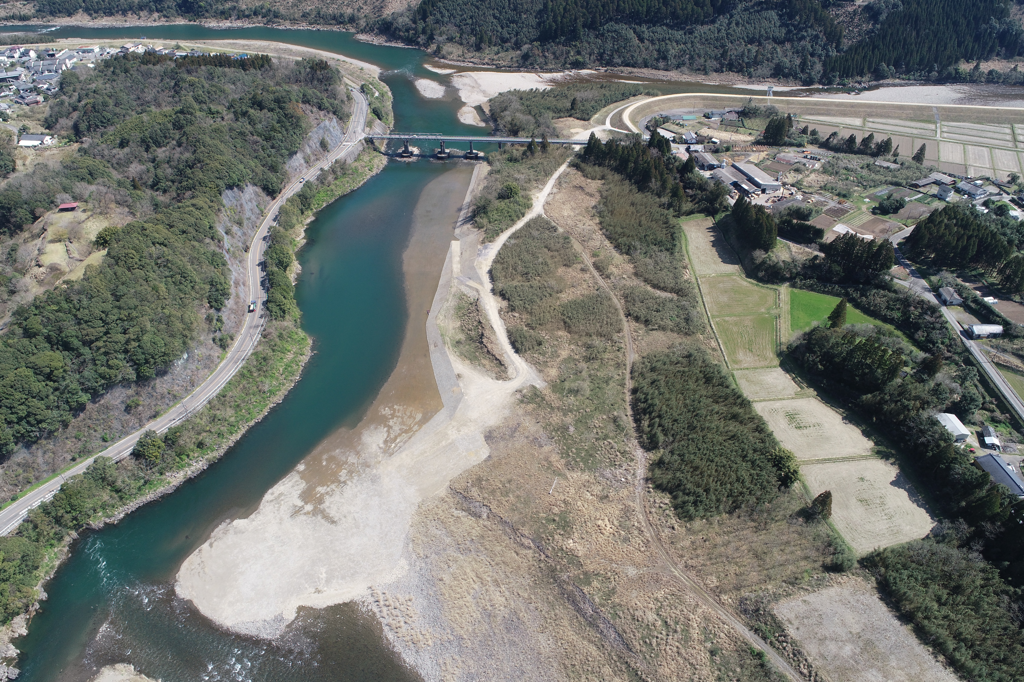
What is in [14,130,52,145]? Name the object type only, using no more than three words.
house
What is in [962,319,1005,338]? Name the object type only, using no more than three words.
building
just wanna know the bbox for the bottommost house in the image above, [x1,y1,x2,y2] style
[976,449,1024,496]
